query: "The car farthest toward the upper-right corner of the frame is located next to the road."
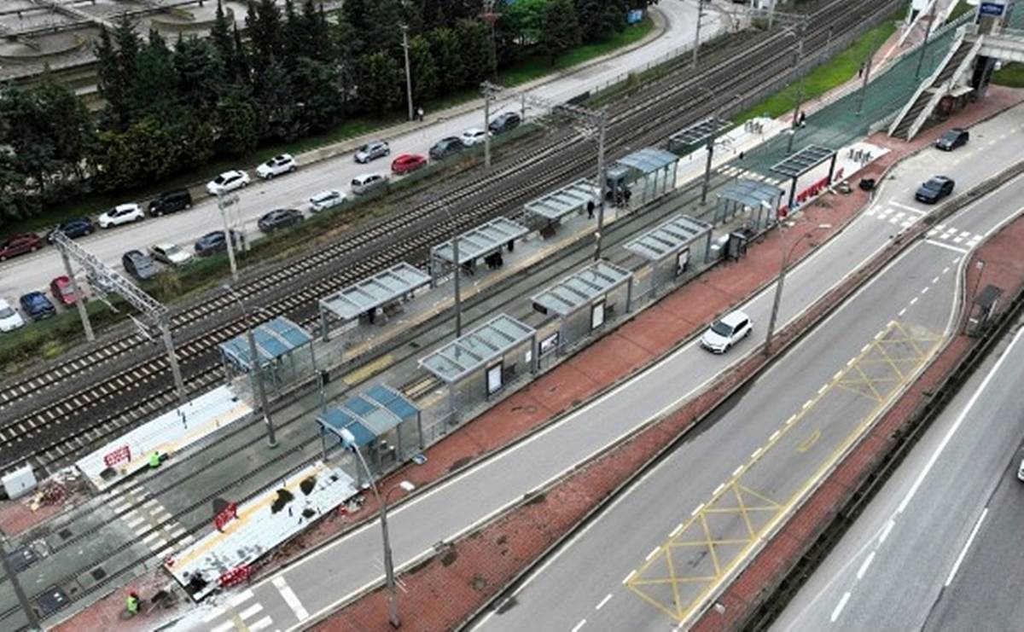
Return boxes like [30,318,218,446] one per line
[935,123,971,148]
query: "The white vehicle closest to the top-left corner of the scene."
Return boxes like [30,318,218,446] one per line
[98,199,148,225]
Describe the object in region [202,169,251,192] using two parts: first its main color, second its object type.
white car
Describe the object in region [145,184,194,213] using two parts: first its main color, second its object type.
black van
